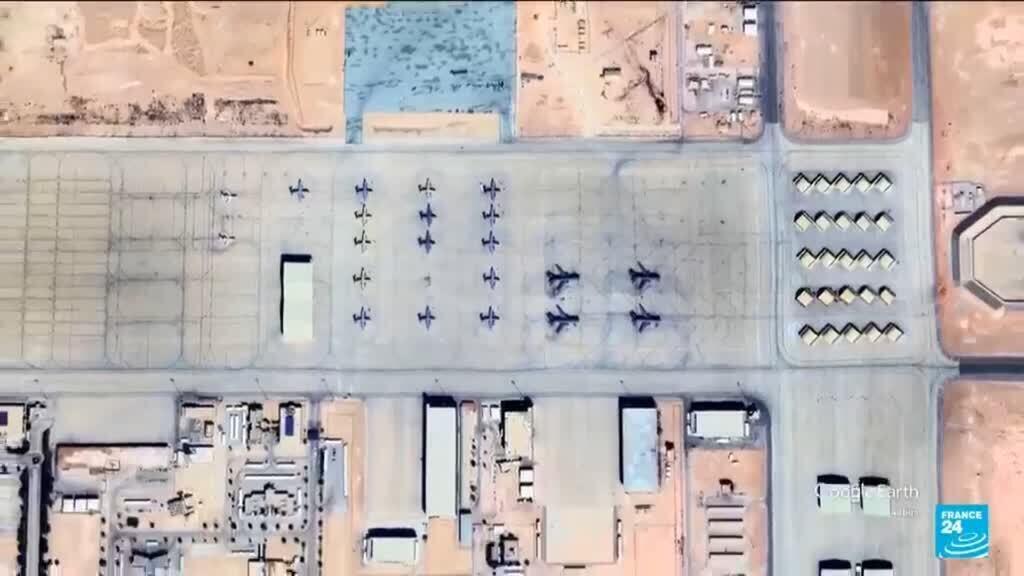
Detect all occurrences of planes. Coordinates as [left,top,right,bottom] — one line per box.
[292,179,308,202]
[484,269,501,292]
[484,233,500,256]
[484,206,500,229]
[420,178,437,201]
[420,309,436,332]
[355,308,371,331]
[483,309,499,332]
[354,269,371,292]
[356,179,373,202]
[355,232,372,255]
[420,232,436,255]
[218,231,233,248]
[221,188,235,205]
[485,180,501,203]
[631,307,662,334]
[631,264,662,291]
[549,266,579,293]
[549,307,579,334]
[421,206,437,229]
[355,205,372,228]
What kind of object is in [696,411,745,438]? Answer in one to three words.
hangar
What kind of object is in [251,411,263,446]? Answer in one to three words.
building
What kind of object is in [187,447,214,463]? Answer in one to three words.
building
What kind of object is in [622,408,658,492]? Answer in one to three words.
hangar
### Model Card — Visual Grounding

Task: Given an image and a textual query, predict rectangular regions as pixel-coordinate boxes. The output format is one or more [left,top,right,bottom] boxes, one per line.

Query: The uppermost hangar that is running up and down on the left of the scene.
[283,261,314,340]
